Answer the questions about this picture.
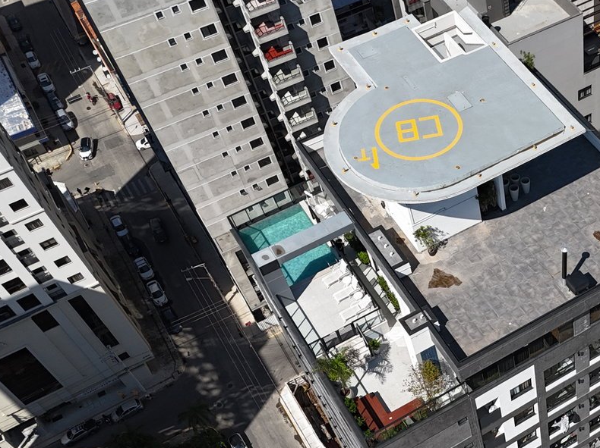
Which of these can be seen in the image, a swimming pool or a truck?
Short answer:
swimming pool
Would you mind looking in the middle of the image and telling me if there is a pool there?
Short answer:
Yes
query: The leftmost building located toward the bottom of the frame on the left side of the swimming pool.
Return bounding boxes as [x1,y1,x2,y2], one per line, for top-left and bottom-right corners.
[0,107,162,448]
